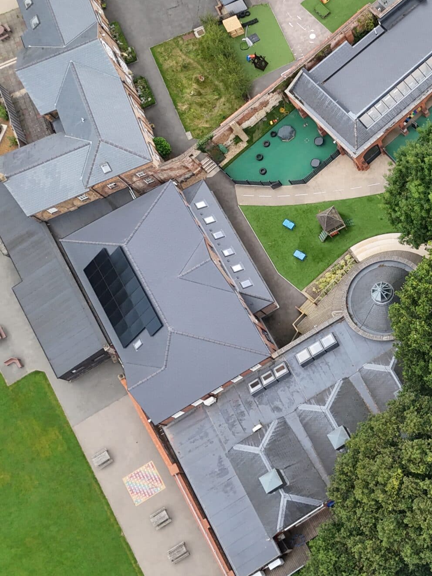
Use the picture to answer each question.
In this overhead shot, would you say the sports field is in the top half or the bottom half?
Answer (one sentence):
The bottom half of the photo is where the sports field is.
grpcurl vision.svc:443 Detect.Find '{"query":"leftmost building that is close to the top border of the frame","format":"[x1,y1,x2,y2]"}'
[0,0,162,223]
